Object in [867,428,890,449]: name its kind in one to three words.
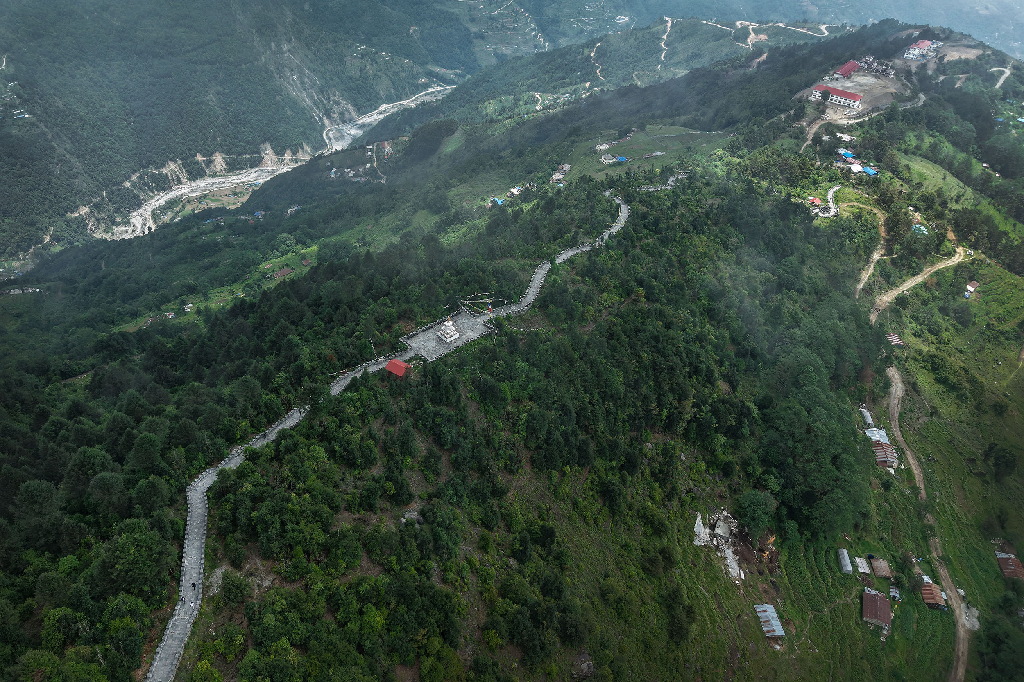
house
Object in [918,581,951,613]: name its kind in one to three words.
house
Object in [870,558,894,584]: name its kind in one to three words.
shed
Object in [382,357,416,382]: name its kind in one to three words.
shed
